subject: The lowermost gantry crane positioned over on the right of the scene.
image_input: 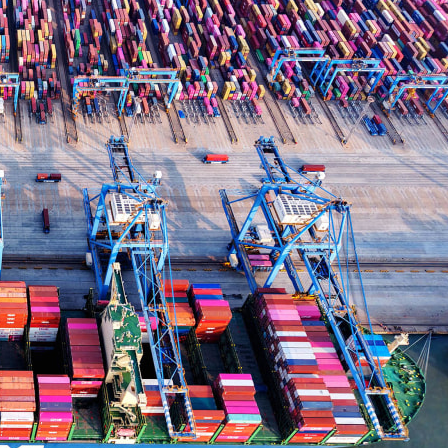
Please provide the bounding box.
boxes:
[215,136,405,446]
